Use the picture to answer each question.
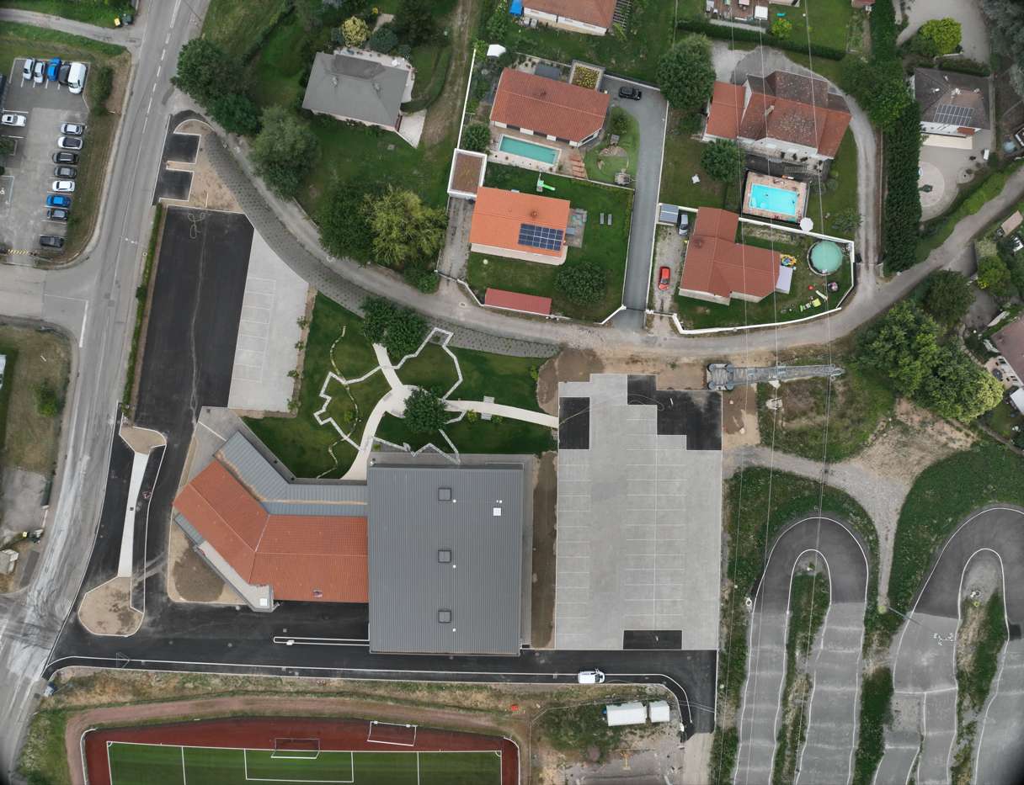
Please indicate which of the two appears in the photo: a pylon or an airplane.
pylon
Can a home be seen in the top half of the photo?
Yes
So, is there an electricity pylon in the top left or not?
No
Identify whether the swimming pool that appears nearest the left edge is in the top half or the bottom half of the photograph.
top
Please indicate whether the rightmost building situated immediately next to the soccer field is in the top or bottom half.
bottom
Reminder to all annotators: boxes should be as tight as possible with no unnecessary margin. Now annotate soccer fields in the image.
[86,718,519,785]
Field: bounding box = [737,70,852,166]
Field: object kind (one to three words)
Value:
house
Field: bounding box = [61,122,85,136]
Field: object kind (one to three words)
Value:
car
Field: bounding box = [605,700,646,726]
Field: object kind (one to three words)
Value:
building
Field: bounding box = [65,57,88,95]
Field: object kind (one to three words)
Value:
vehicle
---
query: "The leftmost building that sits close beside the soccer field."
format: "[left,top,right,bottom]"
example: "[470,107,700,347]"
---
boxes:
[173,431,369,612]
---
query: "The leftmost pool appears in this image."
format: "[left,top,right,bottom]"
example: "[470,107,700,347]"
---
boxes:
[498,133,561,166]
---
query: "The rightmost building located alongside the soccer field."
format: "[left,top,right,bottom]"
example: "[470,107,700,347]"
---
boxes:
[367,460,526,657]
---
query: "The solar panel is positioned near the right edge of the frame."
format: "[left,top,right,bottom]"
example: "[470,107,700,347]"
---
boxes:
[936,104,974,126]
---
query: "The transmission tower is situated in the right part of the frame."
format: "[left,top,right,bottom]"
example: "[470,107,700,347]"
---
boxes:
[708,355,848,389]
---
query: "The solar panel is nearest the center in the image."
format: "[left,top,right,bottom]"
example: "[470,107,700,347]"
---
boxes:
[518,223,563,250]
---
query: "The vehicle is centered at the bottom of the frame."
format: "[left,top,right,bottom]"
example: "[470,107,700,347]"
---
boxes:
[578,667,605,686]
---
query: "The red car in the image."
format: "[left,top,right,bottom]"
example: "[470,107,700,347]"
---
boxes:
[658,266,671,290]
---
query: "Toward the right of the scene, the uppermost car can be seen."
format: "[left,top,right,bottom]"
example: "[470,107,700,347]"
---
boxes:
[618,84,641,101]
